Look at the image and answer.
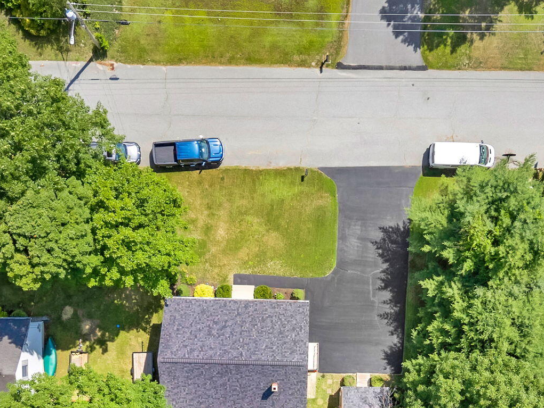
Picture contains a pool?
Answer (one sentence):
No, there's no pool here.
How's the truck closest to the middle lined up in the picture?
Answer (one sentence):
What the image shows is the truck closest to the middle lying from side to side.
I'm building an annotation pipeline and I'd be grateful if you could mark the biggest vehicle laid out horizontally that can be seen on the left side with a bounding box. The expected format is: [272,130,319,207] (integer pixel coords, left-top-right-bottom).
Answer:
[154,137,225,170]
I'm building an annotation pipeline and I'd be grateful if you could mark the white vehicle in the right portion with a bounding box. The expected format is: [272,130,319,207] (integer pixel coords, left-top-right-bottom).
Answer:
[429,141,493,172]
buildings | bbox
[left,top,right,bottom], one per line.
[0,316,51,405]
[341,387,393,408]
[158,296,309,408]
